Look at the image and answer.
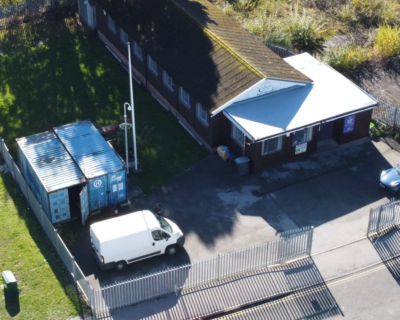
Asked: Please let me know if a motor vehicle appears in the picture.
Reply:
Yes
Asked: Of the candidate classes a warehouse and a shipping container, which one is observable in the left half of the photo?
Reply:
shipping container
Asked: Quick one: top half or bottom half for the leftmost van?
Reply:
bottom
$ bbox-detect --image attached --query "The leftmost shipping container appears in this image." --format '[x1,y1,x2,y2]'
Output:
[18,129,91,225]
